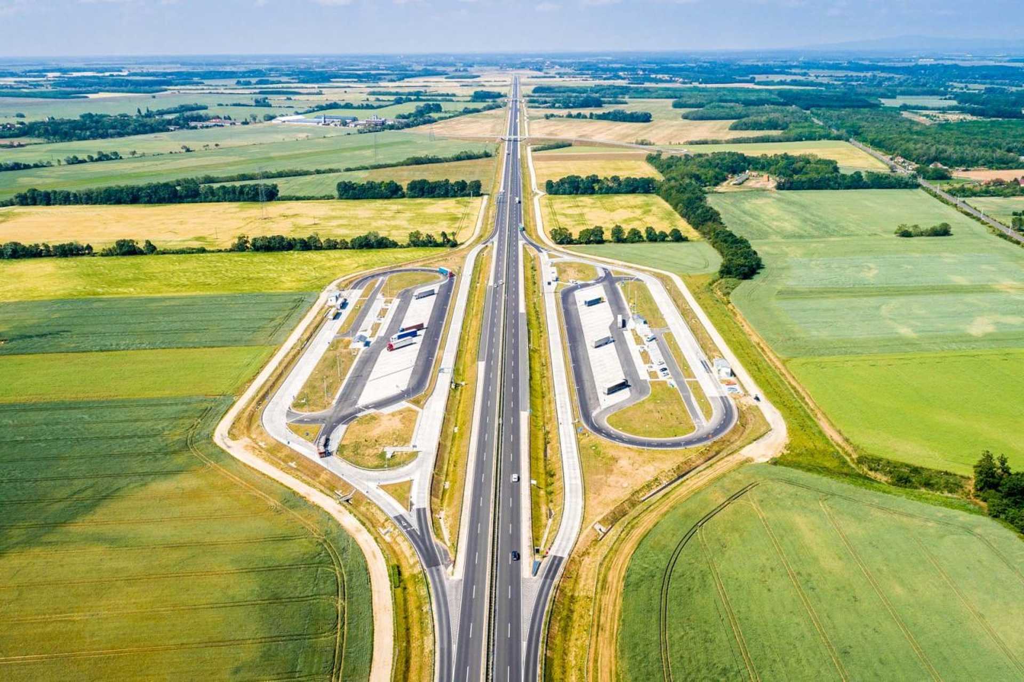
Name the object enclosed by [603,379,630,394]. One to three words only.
vehicle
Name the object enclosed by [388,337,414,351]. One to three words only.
vehicle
